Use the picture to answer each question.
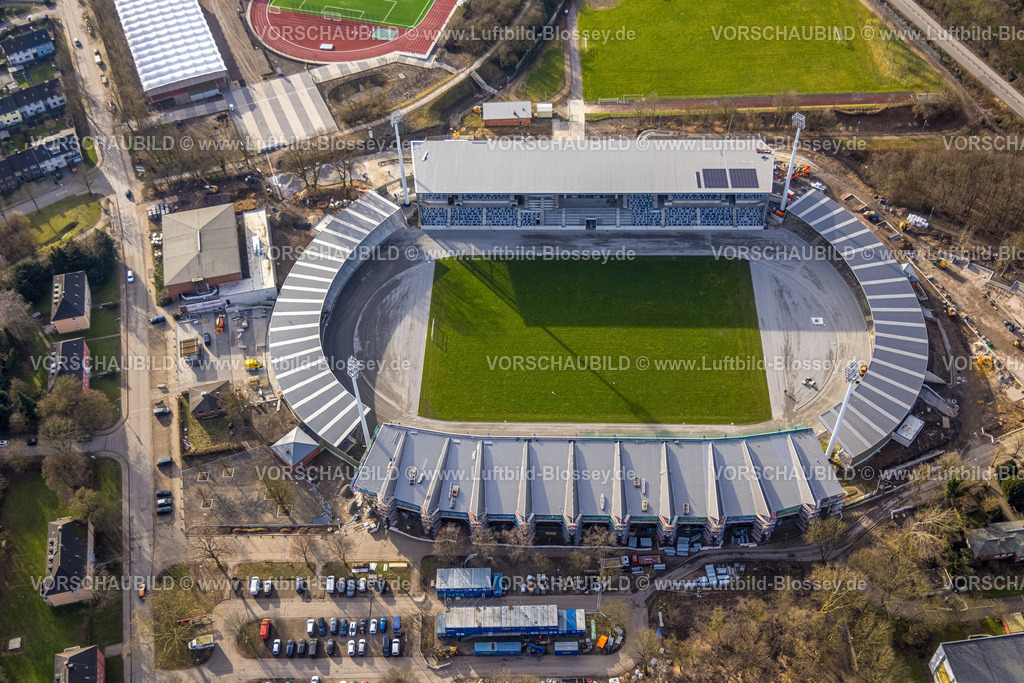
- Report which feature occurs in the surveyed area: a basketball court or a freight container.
freight container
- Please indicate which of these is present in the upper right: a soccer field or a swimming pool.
soccer field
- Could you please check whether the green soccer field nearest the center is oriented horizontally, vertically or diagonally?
horizontally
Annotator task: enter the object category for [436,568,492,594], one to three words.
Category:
shipping container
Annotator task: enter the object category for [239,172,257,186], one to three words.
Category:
work vehicle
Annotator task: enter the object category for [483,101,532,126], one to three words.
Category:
shed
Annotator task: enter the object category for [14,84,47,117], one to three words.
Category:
house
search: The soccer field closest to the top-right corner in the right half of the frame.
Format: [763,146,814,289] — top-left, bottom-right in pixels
[579,0,943,102]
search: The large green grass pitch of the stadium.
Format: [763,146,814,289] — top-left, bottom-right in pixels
[419,257,772,423]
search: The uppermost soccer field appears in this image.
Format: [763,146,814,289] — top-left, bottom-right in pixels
[273,0,431,27]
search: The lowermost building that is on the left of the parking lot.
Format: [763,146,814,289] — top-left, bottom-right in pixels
[53,640,102,683]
